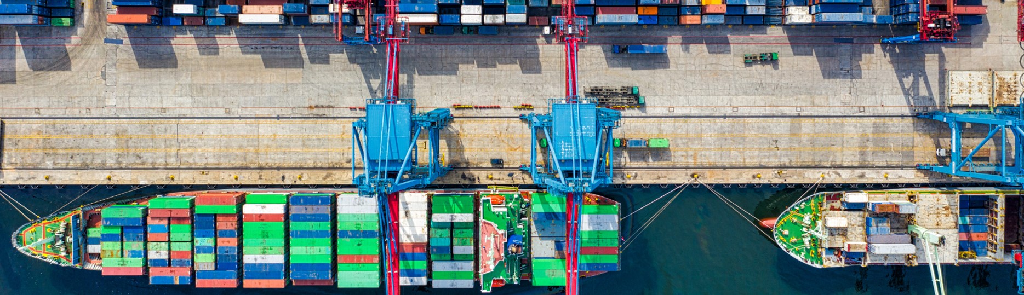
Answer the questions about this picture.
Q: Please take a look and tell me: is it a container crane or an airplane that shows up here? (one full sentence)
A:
The image shows a container crane.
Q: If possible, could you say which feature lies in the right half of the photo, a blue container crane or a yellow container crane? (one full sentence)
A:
There is a blue container crane in the right half of the photo.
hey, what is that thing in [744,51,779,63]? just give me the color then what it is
green vehicle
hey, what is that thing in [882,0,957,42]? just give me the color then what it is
red container crane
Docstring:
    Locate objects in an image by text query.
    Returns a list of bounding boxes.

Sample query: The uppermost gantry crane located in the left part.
[335,0,386,43]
